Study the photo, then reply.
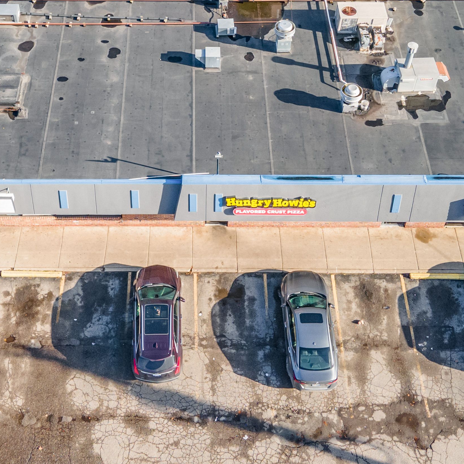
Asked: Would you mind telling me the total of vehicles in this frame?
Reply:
2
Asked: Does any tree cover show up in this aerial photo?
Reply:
No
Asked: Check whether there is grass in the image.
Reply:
No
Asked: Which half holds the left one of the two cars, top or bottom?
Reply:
bottom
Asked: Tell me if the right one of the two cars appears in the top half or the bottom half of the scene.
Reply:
bottom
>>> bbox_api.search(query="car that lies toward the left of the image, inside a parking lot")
[128,264,186,384]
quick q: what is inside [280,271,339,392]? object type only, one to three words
car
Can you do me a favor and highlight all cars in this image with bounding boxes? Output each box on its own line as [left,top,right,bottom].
[128,264,186,384]
[280,271,339,392]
